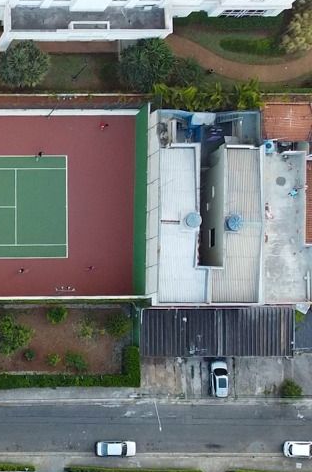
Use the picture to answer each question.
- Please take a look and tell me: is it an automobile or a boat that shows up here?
automobile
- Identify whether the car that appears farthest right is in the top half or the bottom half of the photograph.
bottom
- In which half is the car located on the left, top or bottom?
bottom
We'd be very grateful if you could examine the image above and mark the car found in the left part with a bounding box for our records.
[95,439,135,459]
